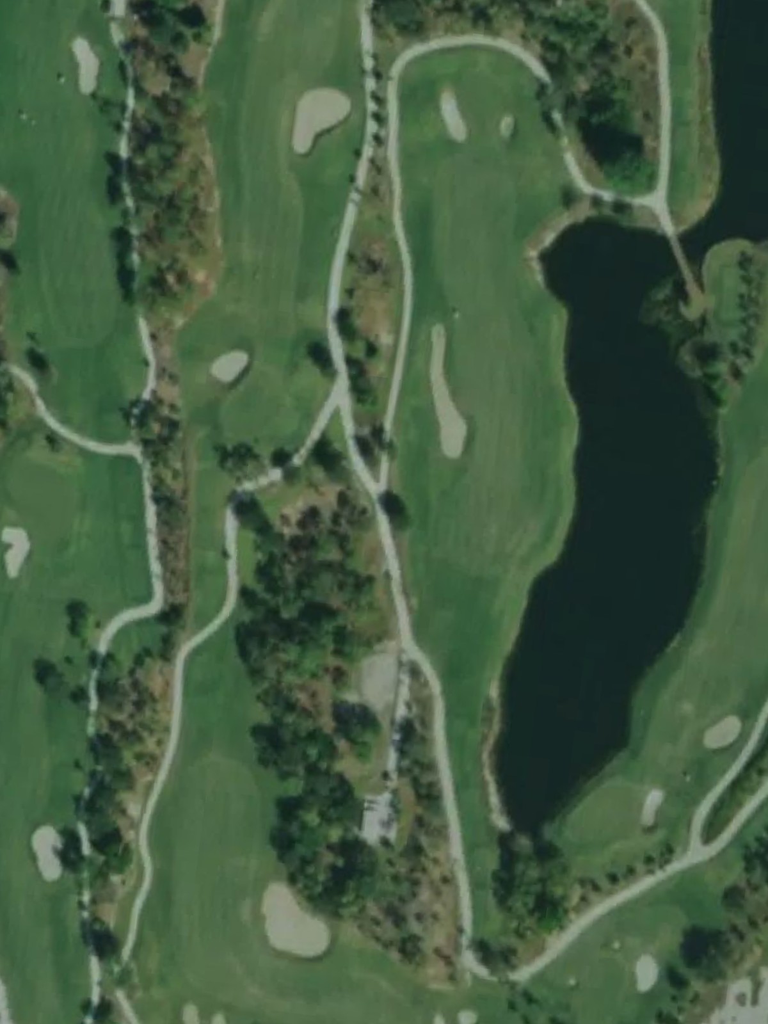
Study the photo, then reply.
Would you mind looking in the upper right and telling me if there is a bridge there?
Yes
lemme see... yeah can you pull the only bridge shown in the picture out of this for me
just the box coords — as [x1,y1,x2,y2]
[666,224,699,302]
